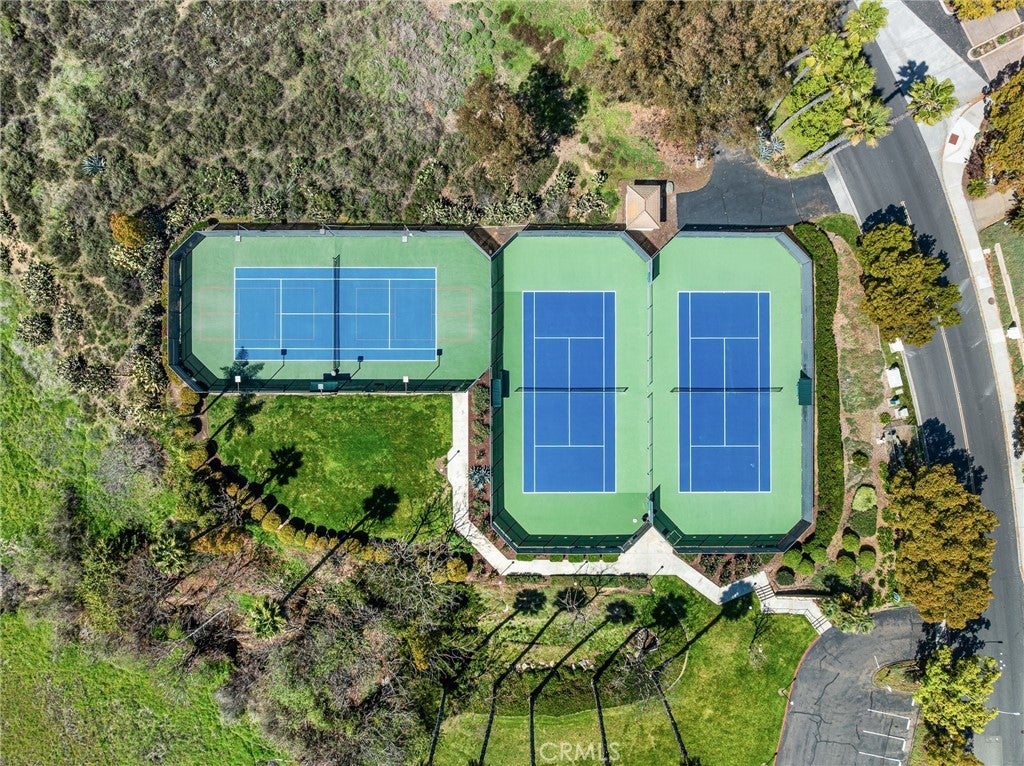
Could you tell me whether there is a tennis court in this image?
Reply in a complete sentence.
Yes, a tennis court can be made out from above.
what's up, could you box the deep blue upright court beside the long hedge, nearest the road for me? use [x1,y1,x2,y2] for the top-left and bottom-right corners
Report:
[647,238,800,545]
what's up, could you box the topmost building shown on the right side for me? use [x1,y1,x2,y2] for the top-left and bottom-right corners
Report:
[625,185,661,231]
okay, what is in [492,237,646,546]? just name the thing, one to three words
tennis court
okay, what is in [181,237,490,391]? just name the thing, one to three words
tennis court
